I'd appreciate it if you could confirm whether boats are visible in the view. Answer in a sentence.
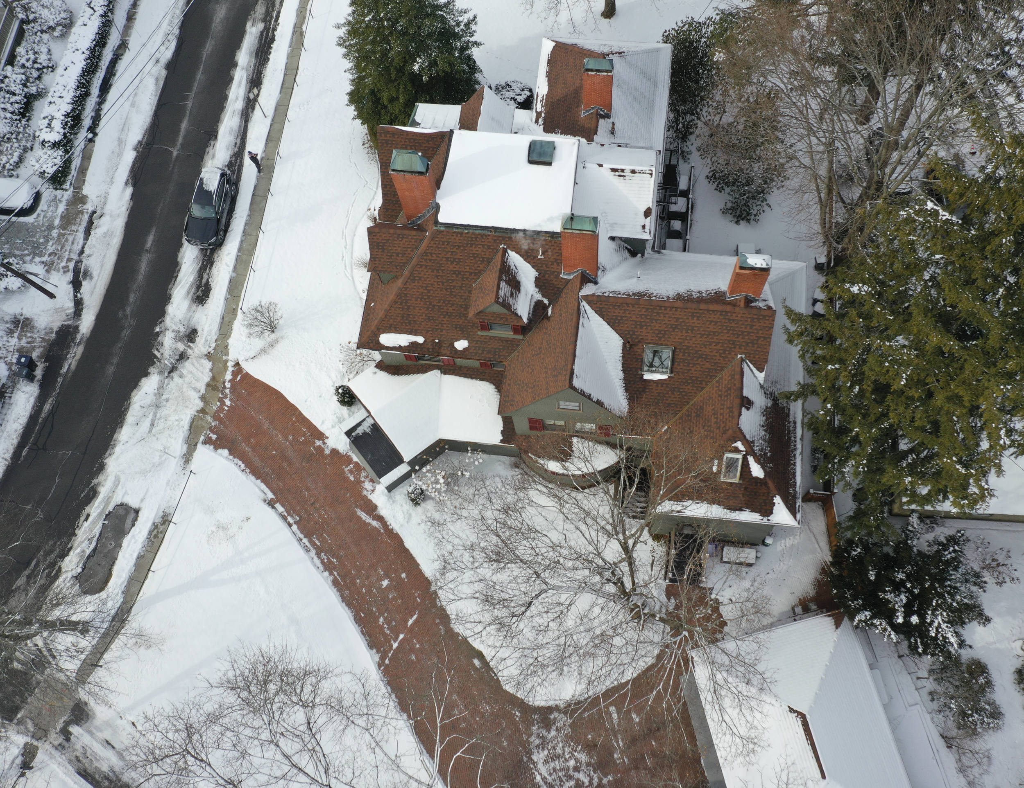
No, the photo shows no boat.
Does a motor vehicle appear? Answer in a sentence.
Yes, there's a motor vehicle down there.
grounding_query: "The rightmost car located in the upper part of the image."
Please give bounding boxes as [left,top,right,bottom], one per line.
[181,167,233,245]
